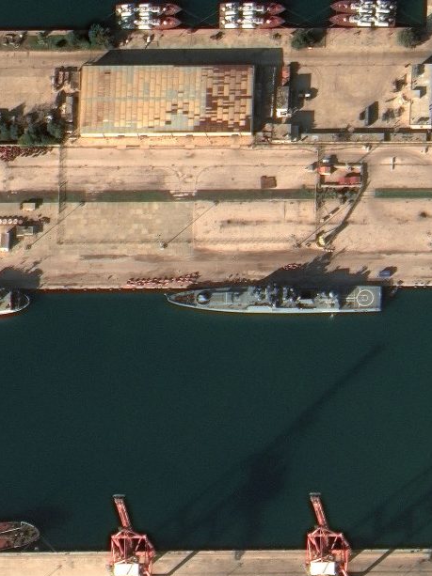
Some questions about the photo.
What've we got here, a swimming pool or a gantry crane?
gantry crane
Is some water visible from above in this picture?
Yes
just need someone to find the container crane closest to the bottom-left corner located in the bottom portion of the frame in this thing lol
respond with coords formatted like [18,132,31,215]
[108,498,160,576]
